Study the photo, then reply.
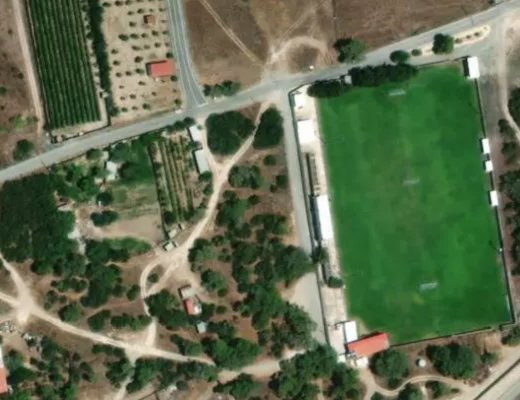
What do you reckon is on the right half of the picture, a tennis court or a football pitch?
football pitch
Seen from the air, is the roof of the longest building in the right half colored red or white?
red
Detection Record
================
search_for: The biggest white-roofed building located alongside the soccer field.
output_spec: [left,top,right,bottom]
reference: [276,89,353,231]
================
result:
[298,120,314,145]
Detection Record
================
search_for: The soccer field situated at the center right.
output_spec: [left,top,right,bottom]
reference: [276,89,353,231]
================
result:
[309,59,513,345]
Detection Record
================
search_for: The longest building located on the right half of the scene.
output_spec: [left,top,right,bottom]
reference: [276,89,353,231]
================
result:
[348,333,389,357]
